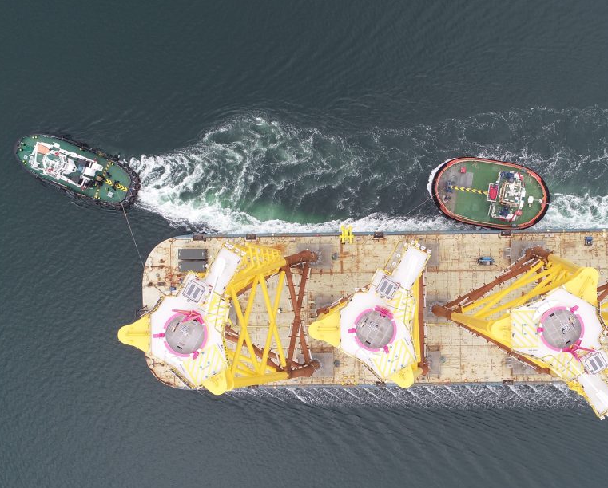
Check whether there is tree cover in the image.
No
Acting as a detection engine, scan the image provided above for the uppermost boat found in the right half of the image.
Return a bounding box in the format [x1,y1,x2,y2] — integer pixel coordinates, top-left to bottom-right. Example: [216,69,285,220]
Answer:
[431,156,550,229]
